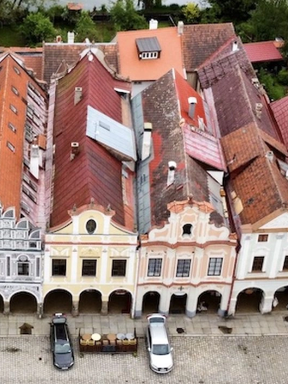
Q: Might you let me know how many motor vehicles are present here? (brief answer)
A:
2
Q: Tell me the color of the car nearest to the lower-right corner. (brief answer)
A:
white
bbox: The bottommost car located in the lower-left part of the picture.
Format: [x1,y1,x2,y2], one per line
[50,315,78,370]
